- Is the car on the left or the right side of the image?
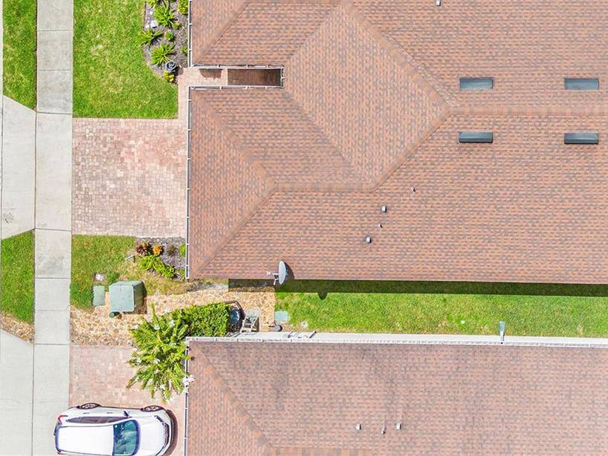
left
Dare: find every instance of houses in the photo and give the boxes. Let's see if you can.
[184,0,608,284]
[184,326,608,456]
